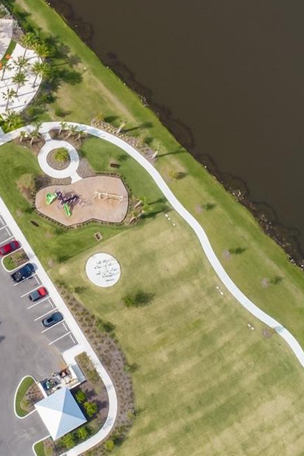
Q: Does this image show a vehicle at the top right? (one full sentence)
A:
No, at the top right there is no vehicle.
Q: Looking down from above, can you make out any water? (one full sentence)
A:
Yes, there's water in this view.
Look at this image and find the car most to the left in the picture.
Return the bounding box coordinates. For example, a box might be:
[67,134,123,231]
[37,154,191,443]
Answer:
[0,240,20,255]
